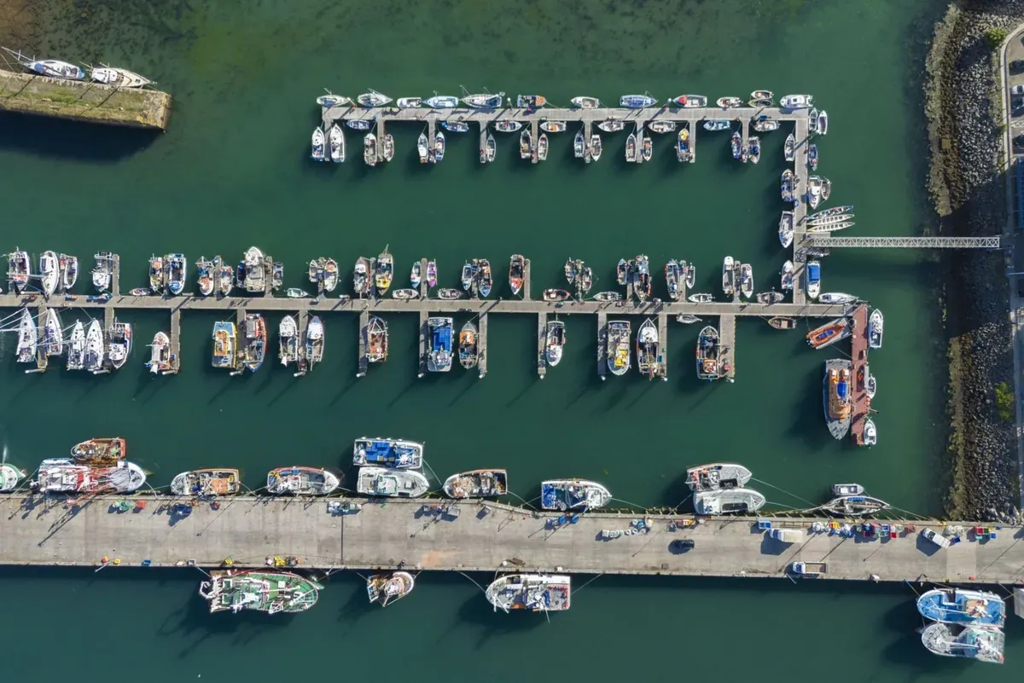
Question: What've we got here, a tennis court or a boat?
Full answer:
Of the two, only a boat appears.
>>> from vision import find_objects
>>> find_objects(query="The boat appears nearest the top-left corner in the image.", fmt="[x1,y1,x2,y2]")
[0,37,90,79]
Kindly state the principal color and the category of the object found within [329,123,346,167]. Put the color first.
white boat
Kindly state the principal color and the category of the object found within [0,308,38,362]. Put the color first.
white boat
